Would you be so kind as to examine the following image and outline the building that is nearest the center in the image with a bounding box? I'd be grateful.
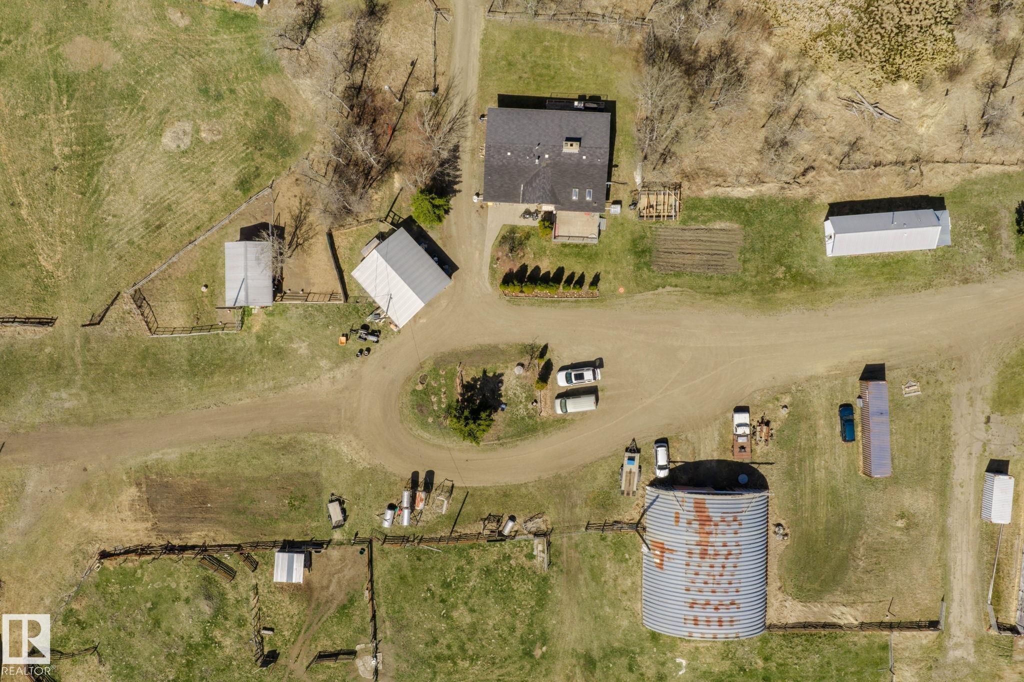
[352,227,451,328]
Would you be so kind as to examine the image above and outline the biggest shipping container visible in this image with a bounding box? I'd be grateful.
[859,380,892,478]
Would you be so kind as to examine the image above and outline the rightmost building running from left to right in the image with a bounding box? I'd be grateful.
[824,209,942,256]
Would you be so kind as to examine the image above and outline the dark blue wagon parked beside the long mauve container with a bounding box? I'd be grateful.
[838,404,858,443]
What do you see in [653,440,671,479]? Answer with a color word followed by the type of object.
white car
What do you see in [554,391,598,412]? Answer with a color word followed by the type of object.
white vehicle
